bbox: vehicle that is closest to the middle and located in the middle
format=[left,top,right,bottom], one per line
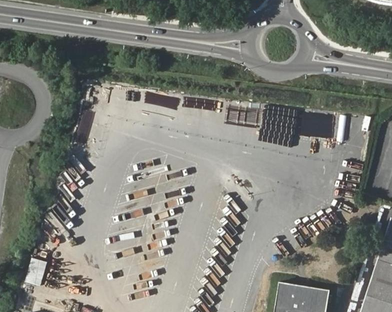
[166,168,189,180]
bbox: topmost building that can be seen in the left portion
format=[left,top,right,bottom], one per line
[26,259,46,286]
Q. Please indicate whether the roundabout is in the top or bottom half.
top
